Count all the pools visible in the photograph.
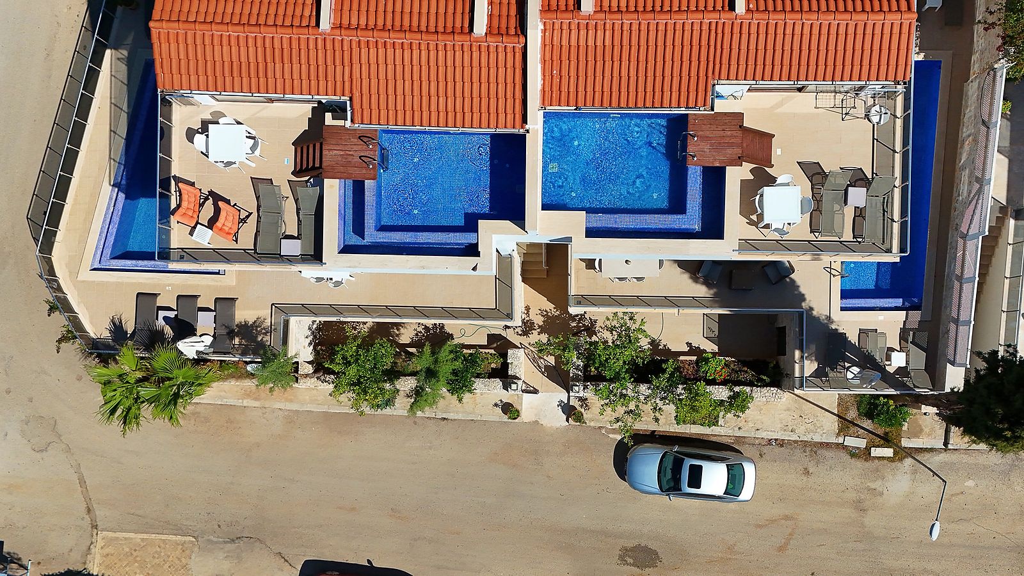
4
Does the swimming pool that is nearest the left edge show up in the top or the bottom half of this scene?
top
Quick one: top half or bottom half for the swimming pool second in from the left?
top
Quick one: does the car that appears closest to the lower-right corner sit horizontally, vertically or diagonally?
horizontally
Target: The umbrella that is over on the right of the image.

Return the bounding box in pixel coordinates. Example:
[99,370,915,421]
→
[855,364,897,387]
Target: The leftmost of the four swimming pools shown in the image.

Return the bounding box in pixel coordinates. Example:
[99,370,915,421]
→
[90,58,231,274]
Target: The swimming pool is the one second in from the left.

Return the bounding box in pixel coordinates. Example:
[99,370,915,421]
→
[323,122,532,274]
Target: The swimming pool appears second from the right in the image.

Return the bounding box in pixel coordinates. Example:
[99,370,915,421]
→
[527,109,741,261]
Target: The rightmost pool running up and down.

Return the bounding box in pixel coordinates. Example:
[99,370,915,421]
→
[839,60,942,310]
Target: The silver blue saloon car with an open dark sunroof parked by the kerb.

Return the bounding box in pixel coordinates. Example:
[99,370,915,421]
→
[623,440,758,505]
